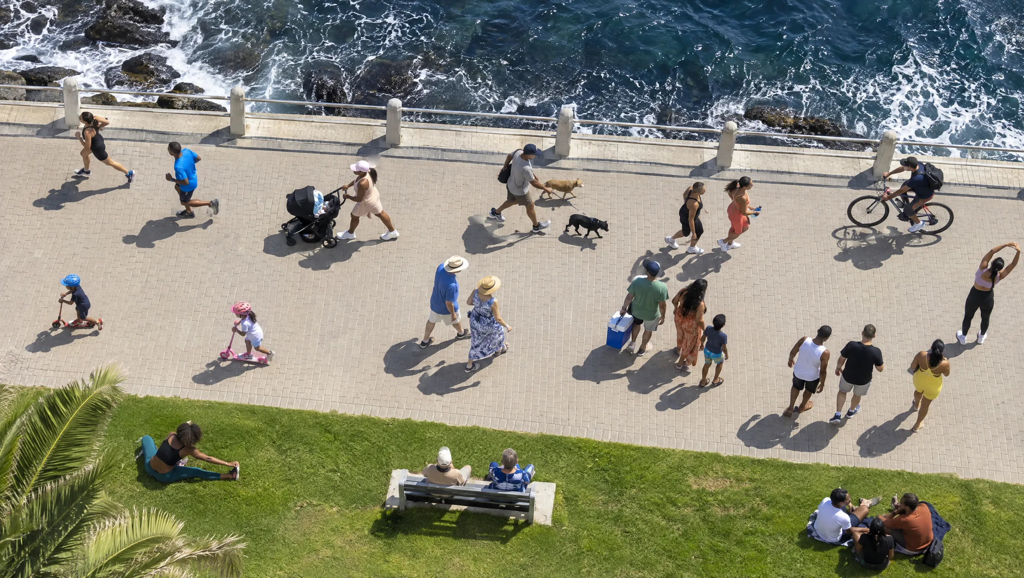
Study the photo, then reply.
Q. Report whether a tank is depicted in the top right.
No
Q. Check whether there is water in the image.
Yes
